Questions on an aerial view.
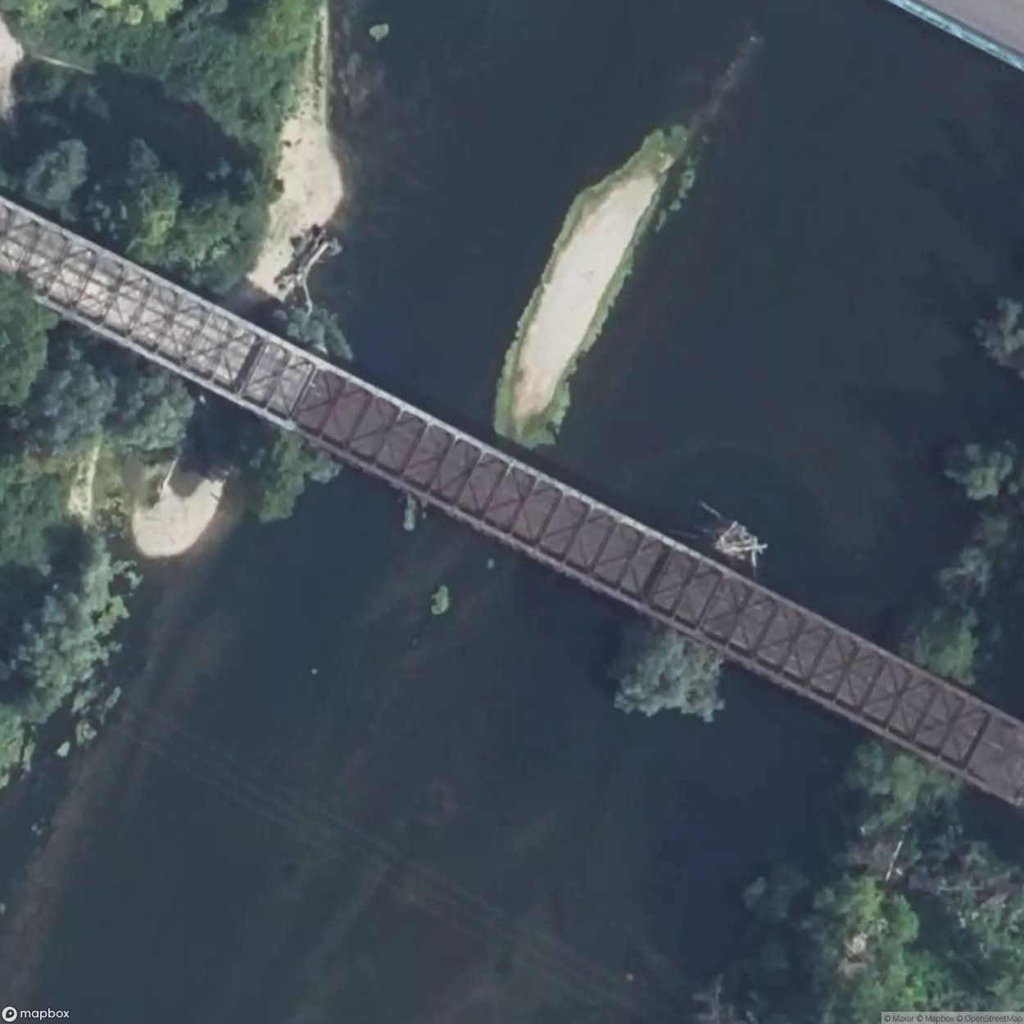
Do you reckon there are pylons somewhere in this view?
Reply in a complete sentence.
No, the frame has no pylon in it.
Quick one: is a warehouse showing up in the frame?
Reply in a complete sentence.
No, the frame has no warehouse in it.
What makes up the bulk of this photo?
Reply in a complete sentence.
What you mostly see from above here is water.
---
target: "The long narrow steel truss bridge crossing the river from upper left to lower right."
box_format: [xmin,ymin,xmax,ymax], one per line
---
[0,198,1024,807]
